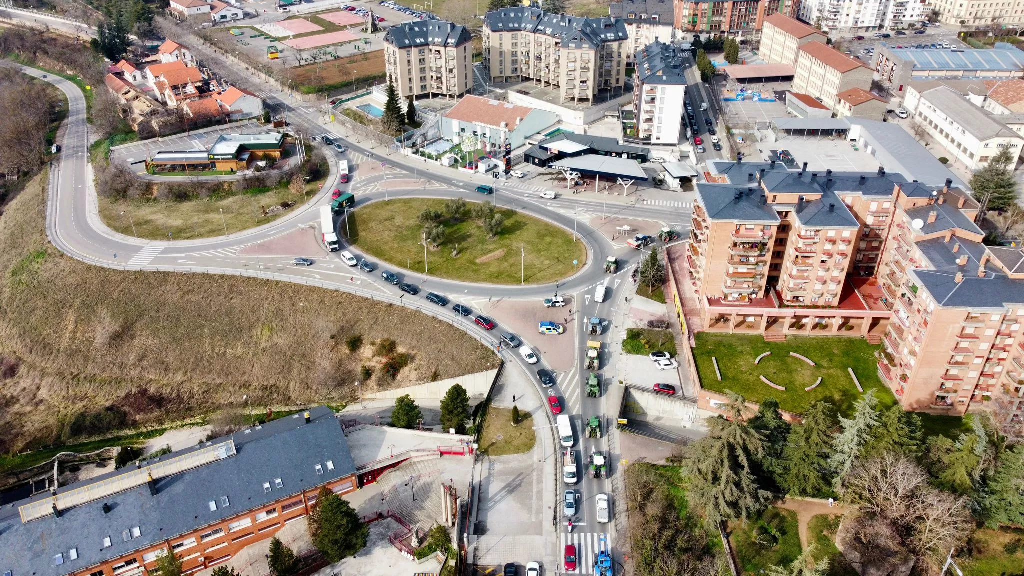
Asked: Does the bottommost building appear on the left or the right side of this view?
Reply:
left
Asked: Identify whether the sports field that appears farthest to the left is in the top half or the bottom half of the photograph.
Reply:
top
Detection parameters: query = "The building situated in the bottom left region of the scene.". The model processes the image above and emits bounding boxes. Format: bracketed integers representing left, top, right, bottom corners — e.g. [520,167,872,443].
[0,406,357,576]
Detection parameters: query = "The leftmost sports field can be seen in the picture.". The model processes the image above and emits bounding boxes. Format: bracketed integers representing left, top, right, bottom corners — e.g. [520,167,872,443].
[191,7,389,78]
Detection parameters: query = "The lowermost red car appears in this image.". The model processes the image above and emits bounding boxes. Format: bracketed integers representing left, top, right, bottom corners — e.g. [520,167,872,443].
[562,541,578,570]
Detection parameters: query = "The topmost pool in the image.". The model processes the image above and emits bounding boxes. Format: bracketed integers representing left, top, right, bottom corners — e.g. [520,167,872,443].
[357,103,383,117]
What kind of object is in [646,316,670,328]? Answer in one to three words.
vehicle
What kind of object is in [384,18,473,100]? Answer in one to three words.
building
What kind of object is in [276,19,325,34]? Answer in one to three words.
sports court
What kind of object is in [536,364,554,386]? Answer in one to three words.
vehicle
